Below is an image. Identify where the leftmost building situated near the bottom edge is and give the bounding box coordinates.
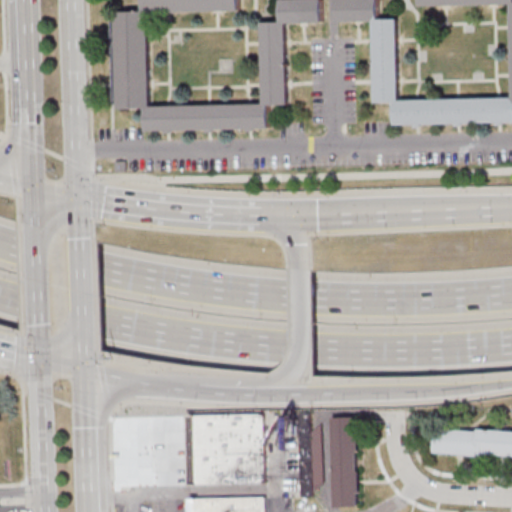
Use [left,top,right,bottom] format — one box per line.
[113,416,188,491]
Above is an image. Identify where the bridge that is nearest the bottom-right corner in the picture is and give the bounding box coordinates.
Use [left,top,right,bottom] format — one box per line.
[269,267,314,376]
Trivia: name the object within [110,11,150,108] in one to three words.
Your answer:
building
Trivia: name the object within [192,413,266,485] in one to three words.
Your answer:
building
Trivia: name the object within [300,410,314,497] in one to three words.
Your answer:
shed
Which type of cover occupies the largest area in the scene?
paved ground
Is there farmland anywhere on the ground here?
No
